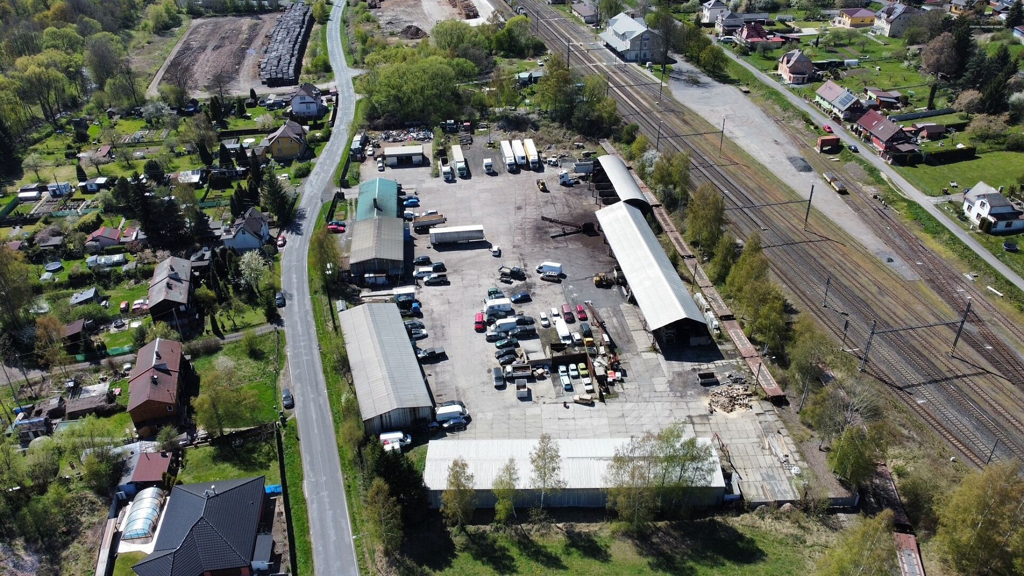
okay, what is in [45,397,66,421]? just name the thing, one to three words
barn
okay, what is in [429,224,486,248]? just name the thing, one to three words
trailer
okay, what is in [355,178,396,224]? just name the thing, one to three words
building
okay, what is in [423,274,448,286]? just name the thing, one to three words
vehicle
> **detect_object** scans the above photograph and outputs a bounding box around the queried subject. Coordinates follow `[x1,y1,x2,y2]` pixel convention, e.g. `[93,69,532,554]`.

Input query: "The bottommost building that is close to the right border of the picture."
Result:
[959,179,1024,233]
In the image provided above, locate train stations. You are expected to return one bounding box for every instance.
[590,12,663,63]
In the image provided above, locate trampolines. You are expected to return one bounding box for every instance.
[43,261,62,271]
[1001,236,1023,251]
